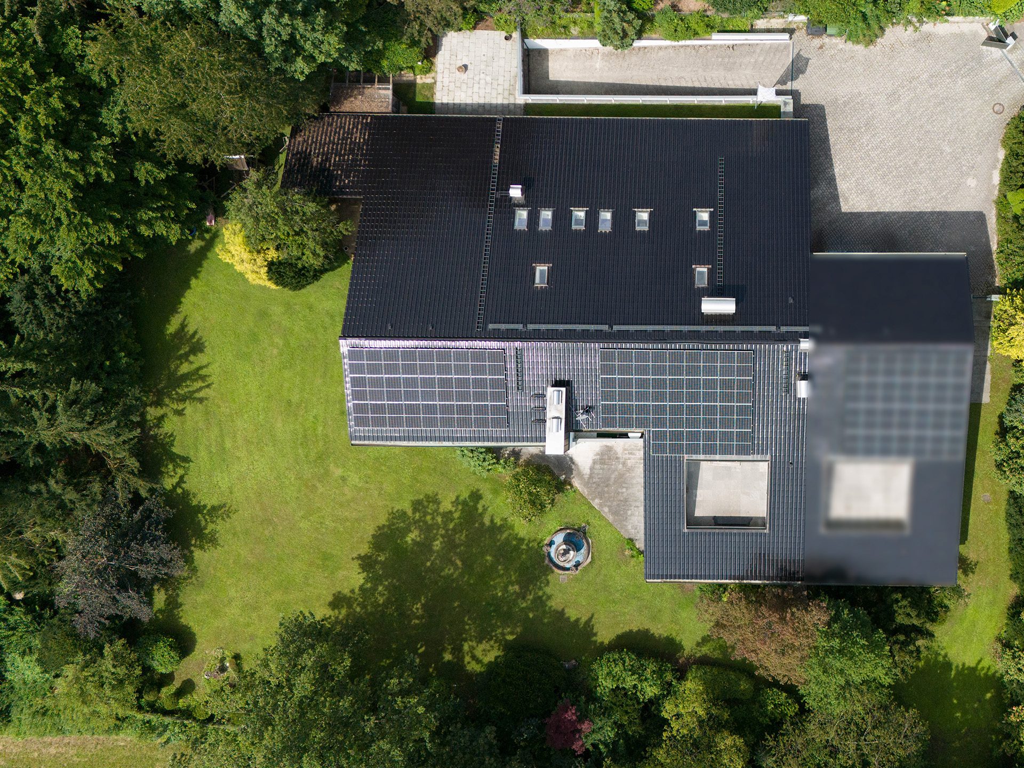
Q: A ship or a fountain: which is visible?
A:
fountain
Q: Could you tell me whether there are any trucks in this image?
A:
No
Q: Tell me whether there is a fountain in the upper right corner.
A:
No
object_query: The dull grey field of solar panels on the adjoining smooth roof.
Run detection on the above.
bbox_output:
[840,353,968,459]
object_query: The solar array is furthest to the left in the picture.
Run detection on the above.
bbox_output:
[348,349,509,430]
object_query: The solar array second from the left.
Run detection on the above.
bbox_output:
[600,351,754,456]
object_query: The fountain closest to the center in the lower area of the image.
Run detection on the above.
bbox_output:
[543,524,591,573]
